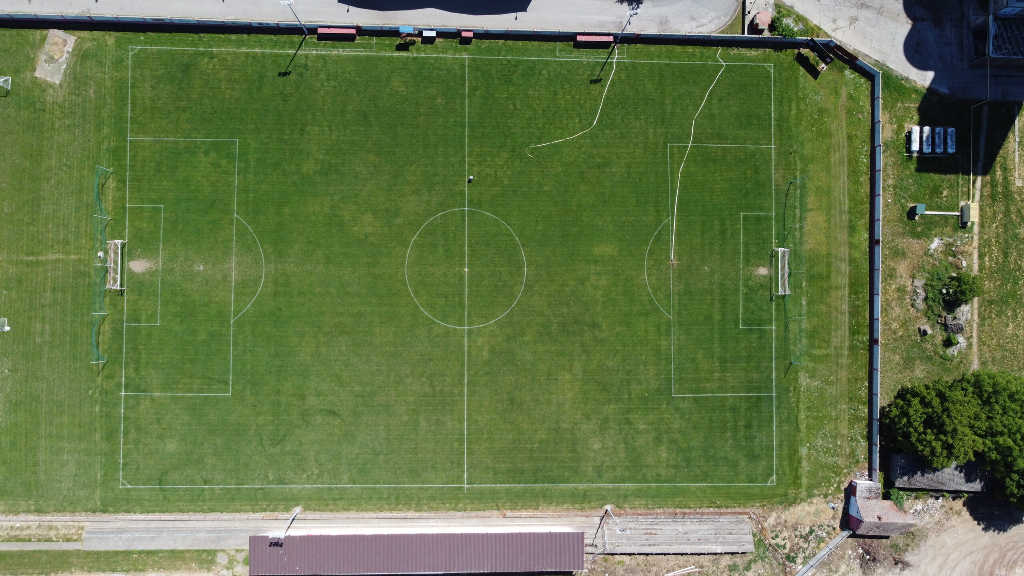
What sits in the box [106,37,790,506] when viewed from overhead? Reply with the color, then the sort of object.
green soccer field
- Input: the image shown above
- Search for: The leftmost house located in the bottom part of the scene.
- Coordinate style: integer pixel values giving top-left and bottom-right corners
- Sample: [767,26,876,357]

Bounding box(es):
[848,479,917,535]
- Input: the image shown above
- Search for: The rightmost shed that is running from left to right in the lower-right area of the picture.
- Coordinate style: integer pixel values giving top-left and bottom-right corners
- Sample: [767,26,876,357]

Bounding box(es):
[885,449,992,492]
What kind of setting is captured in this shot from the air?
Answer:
sports ground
